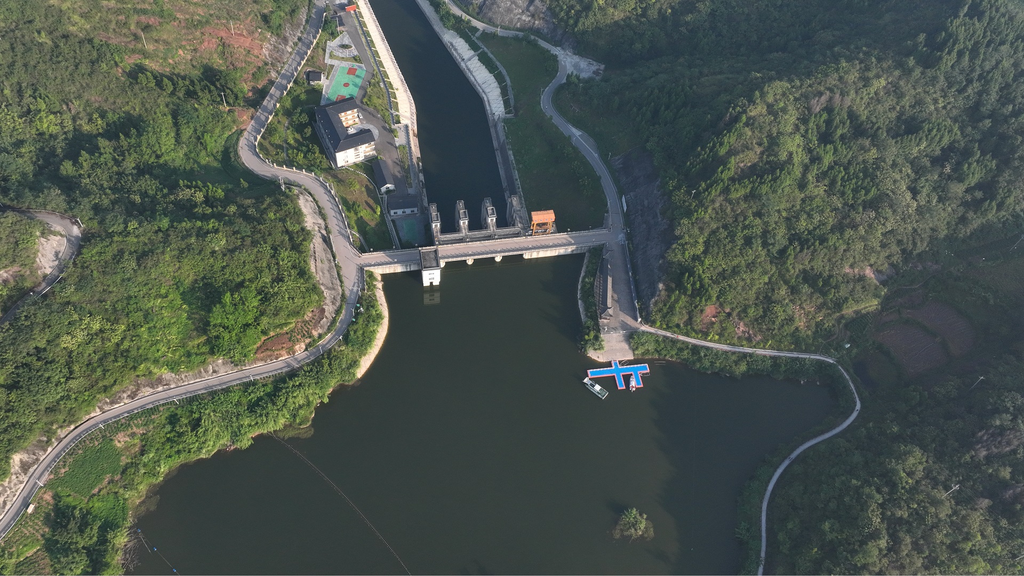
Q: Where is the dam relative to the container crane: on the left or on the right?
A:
on its left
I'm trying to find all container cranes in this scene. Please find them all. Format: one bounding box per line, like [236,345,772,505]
[530,210,555,236]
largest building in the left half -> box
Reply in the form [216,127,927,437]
[315,97,378,168]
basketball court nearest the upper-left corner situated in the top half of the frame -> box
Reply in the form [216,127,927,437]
[329,66,366,102]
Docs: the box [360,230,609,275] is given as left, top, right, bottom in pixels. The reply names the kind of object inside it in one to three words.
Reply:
bridge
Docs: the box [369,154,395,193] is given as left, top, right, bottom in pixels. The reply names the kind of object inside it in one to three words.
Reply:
shed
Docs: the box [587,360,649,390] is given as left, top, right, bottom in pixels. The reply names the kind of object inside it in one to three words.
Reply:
pier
